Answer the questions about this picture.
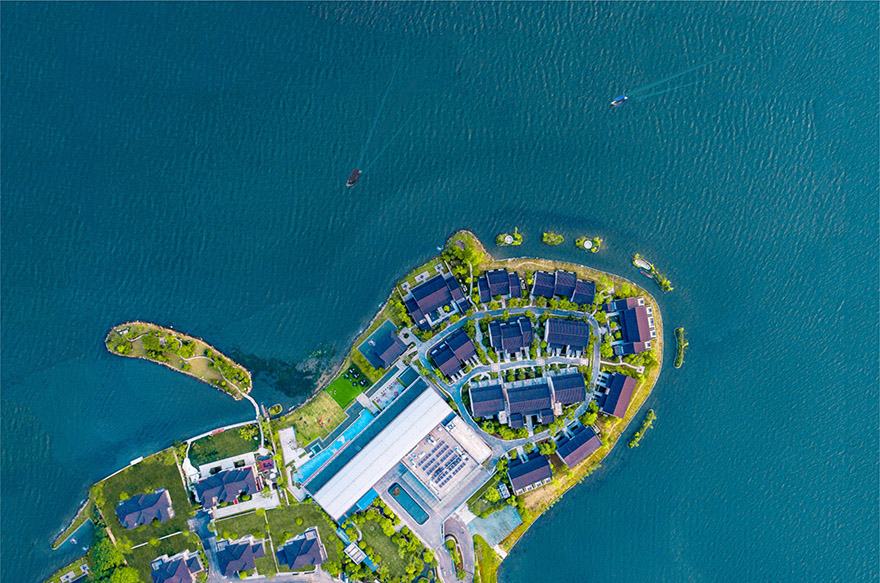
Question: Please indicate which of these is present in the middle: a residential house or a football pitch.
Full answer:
It is a residential house that can be seen in the middle.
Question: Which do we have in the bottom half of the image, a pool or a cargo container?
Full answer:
What appears in the bottom half of the image is a pool.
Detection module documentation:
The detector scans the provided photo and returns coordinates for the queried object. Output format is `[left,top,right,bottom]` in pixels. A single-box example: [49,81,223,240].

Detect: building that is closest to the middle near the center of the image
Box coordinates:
[400,263,472,333]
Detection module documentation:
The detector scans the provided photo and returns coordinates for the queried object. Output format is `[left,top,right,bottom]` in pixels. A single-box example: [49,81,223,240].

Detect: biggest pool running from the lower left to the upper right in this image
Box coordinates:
[293,403,375,485]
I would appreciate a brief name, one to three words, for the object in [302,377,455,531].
building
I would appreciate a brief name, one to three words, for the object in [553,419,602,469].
house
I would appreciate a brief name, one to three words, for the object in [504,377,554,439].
house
